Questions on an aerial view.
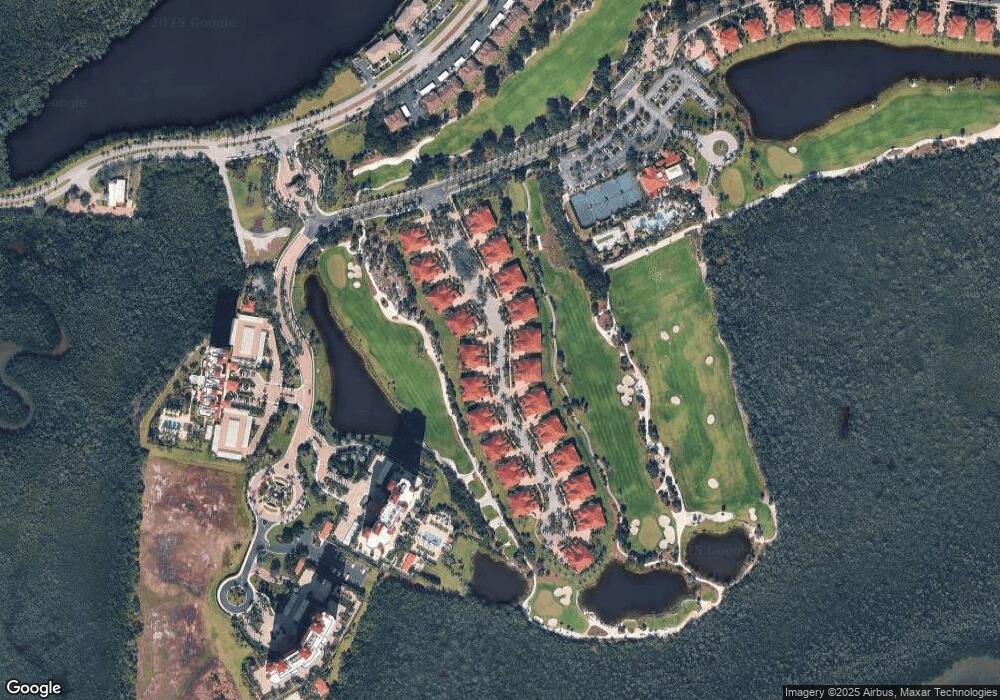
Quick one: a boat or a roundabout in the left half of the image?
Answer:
roundabout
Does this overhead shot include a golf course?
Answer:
Yes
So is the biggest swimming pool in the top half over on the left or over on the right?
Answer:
right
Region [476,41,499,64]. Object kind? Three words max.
building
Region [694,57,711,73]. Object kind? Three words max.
swimming pool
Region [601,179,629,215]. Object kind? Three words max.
tennis court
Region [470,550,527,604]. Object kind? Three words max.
pond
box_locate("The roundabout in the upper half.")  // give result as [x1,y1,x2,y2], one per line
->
[701,131,737,167]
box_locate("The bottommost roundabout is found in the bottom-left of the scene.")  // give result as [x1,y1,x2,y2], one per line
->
[219,576,256,614]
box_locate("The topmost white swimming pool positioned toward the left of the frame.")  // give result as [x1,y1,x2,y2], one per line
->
[159,408,191,439]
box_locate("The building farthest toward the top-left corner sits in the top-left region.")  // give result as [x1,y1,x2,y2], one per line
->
[109,179,126,203]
